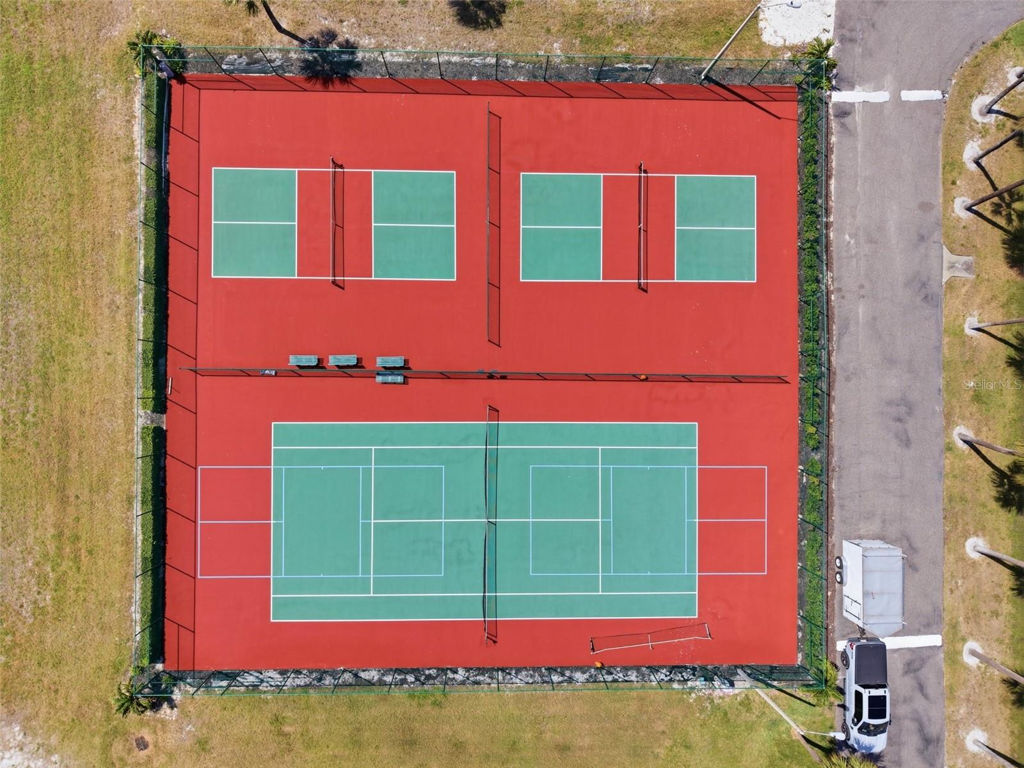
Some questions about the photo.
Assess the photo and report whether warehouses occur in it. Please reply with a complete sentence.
No, no warehouse is visible in the view.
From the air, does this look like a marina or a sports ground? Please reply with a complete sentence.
What you see here is a sports ground.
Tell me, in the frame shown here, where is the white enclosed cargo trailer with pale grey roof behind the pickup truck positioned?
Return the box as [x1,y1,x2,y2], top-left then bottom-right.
[835,539,906,638]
